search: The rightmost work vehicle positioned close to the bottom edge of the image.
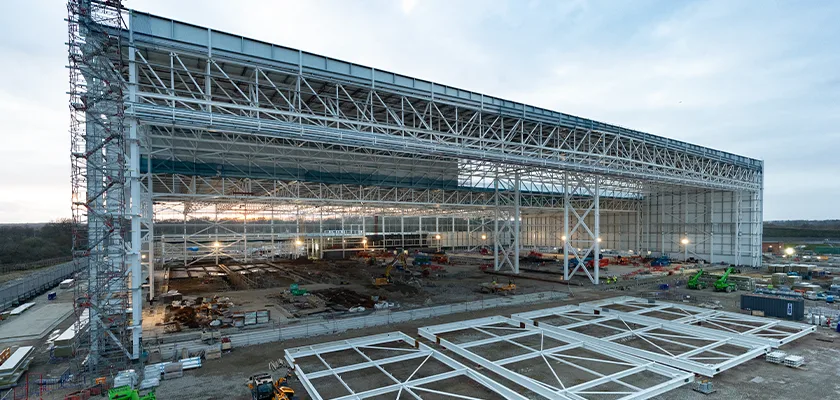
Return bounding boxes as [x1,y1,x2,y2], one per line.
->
[248,373,309,400]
